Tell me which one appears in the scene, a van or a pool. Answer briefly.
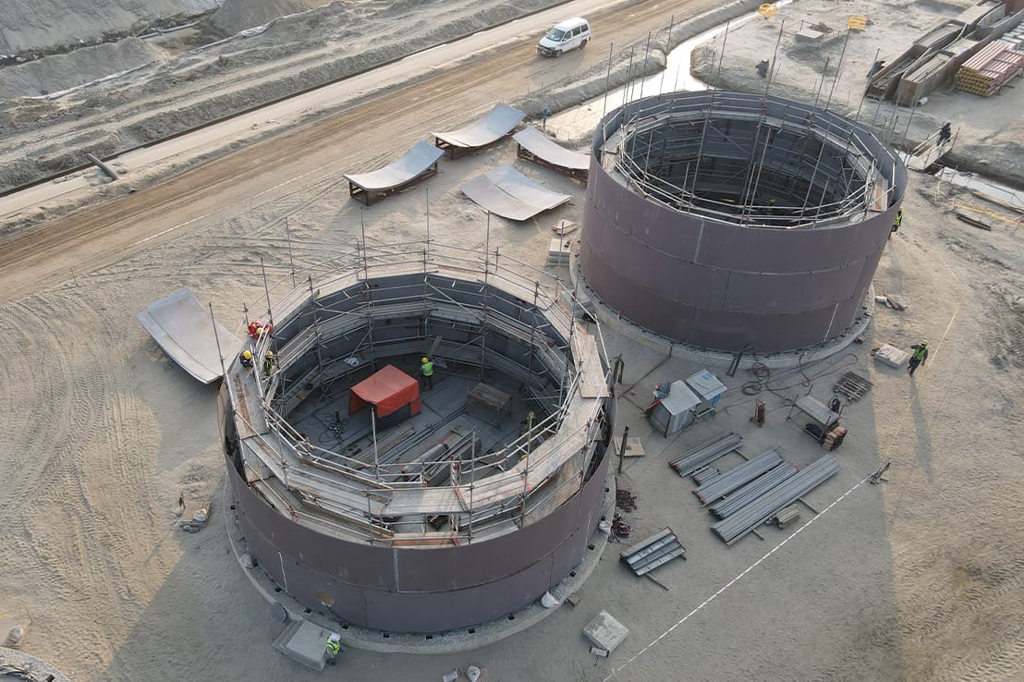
van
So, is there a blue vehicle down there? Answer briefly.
No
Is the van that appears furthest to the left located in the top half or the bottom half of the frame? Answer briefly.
top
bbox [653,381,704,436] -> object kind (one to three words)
shed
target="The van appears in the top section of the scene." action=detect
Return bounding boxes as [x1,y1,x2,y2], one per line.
[534,16,596,55]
